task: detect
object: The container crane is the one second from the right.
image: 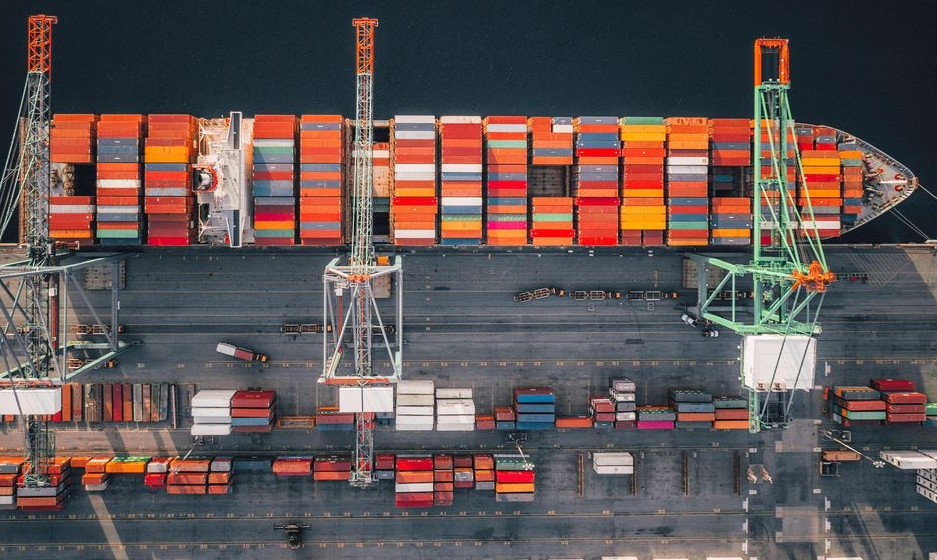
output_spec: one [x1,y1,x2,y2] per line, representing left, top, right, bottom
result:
[323,16,415,487]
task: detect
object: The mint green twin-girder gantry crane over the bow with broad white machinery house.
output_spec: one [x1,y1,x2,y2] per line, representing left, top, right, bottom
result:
[675,36,834,433]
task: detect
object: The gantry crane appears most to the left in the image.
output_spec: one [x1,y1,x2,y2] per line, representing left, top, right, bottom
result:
[0,14,142,490]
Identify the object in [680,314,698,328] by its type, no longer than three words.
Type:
vehicle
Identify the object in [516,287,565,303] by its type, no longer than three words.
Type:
vehicle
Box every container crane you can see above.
[675,36,834,433]
[0,14,142,490]
[323,16,415,487]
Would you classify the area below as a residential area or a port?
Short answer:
port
